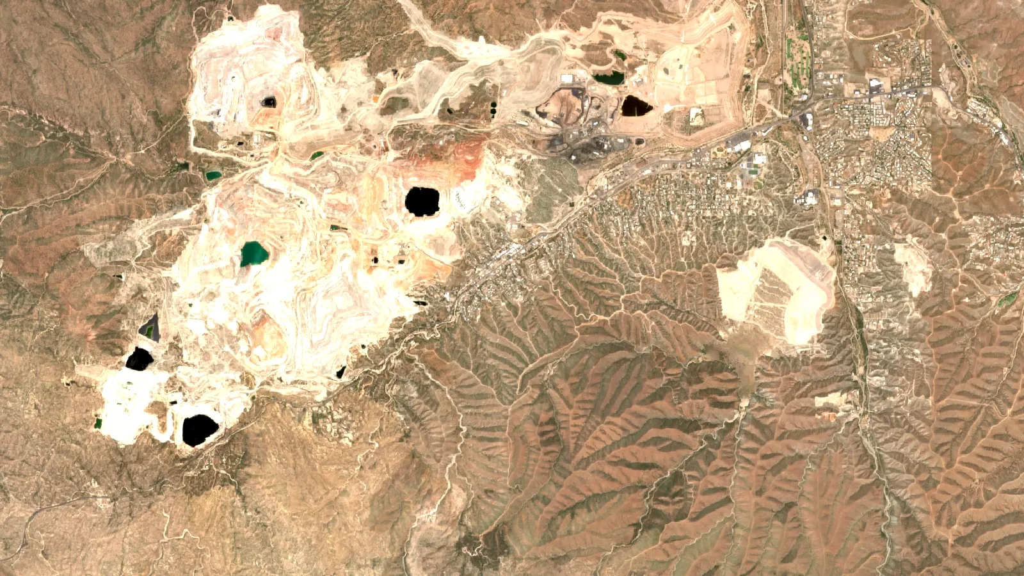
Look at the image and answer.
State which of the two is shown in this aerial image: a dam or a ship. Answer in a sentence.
There is a dam in the scene.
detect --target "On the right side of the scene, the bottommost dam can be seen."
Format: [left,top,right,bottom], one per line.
[718,241,836,346]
